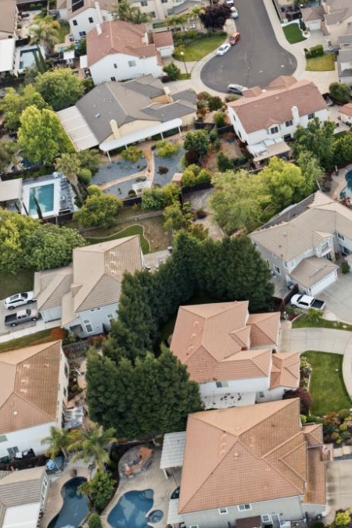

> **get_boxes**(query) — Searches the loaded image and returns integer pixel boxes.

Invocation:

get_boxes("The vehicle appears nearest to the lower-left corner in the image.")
[0,308,34,328]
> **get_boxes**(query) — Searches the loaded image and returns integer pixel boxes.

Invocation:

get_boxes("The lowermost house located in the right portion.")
[162,397,327,528]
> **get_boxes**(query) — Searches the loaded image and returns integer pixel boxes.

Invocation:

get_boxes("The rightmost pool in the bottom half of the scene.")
[147,506,167,526]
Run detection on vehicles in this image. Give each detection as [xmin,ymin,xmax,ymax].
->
[228,34,241,45]
[289,292,327,312]
[3,292,31,309]
[227,81,250,95]
[230,8,240,18]
[214,44,233,55]
[0,308,34,328]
